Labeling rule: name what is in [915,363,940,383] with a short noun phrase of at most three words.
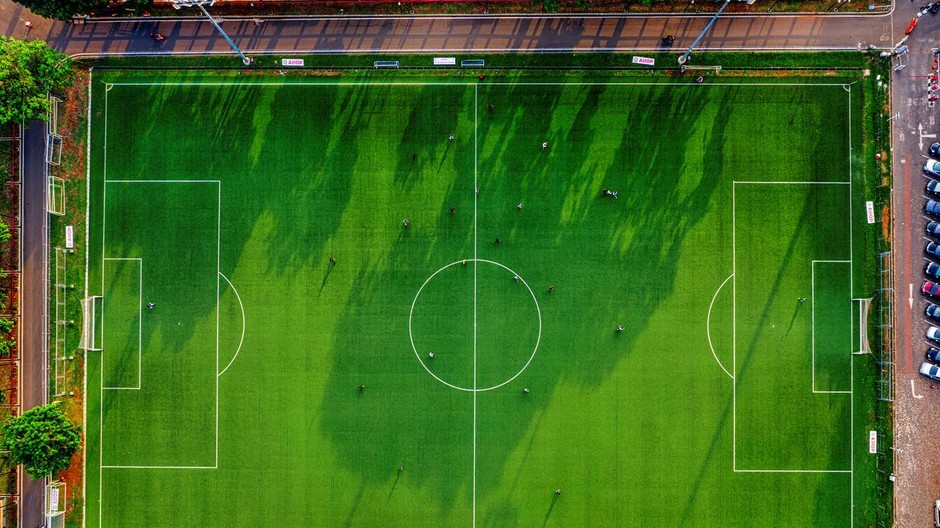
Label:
car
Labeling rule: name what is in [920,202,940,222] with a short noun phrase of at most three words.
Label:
car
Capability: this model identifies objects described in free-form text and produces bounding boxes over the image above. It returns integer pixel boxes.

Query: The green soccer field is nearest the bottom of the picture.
[84,76,865,528]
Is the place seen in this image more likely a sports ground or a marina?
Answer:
sports ground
